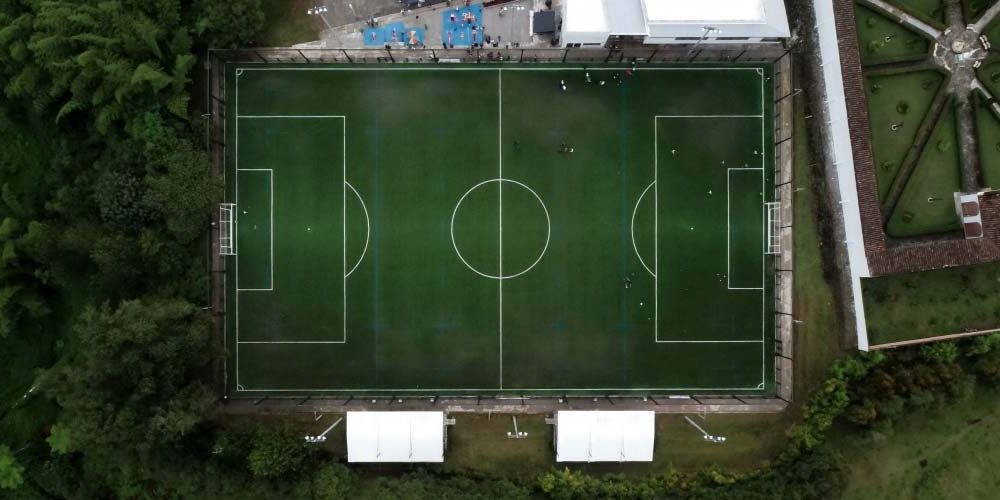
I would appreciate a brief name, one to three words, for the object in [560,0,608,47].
building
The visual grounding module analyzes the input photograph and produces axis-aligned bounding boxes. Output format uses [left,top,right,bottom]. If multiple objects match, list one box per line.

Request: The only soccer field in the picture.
[225,62,775,397]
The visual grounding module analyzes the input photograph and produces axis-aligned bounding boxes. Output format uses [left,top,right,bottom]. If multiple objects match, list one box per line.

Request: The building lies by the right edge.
[814,0,1000,277]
